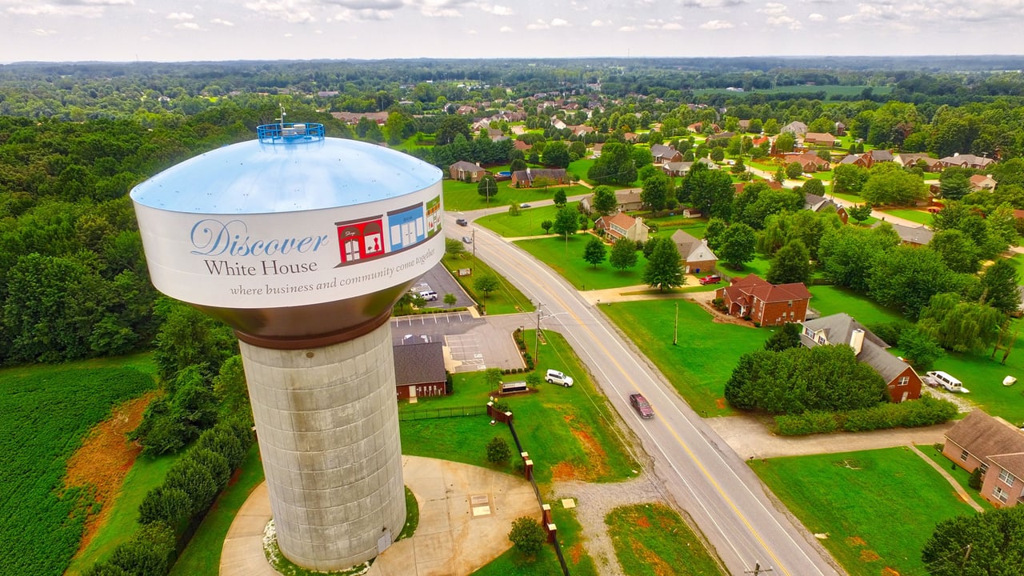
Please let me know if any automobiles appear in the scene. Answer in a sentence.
Yes, looking at the shot, I can spot an automobile.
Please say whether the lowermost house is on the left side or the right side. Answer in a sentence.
The lowermost house is on the right side of the image.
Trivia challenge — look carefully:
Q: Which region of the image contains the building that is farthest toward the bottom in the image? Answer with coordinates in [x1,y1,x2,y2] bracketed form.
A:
[940,403,1024,512]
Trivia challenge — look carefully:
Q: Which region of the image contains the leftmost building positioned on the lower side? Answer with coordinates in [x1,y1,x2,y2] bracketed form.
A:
[395,329,450,400]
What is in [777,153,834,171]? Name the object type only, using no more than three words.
house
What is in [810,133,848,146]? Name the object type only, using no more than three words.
house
